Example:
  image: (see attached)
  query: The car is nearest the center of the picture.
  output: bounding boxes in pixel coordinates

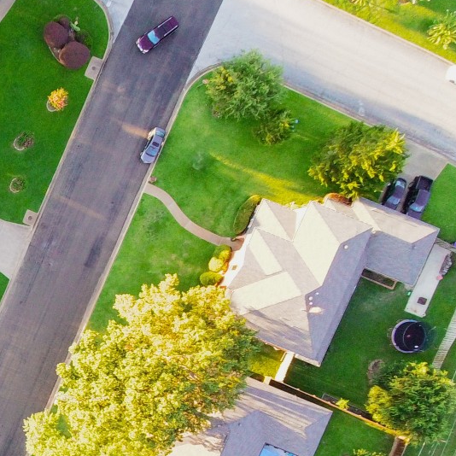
[139,125,167,166]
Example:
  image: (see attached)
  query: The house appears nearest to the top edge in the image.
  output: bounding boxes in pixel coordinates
[204,196,439,367]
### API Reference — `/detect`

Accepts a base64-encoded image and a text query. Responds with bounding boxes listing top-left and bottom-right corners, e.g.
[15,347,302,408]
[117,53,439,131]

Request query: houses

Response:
[218,371,334,456]
[204,196,439,367]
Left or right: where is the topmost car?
left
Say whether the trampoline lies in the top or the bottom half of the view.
bottom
